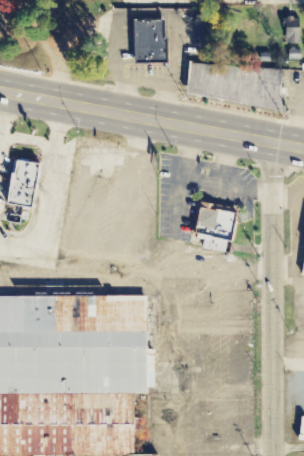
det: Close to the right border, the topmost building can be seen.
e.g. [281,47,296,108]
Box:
[286,16,302,44]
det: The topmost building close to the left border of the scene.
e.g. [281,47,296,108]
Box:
[8,160,39,206]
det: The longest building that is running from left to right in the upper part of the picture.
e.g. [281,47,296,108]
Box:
[188,62,284,112]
